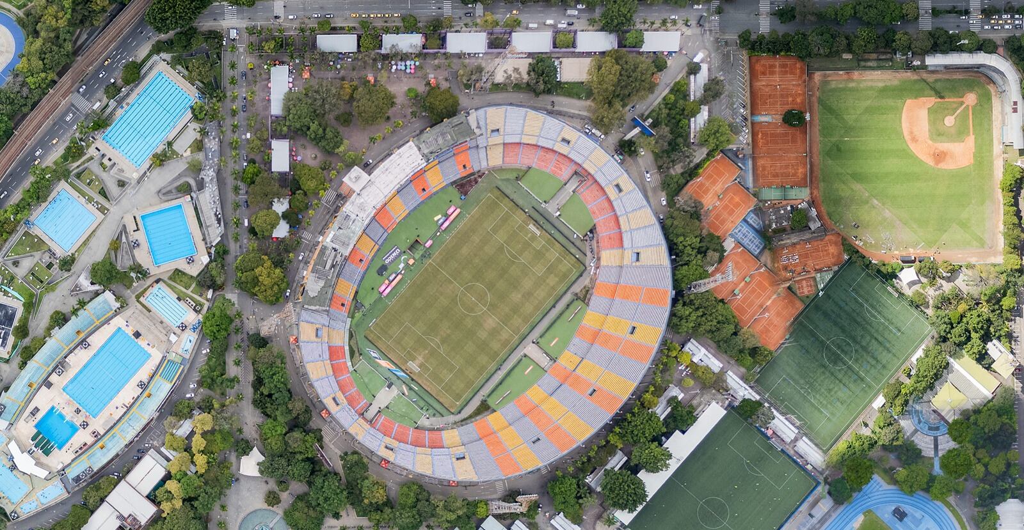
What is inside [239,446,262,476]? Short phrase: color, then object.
white tent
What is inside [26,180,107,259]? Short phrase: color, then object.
blue swimming pool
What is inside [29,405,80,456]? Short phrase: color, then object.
blue swimming pool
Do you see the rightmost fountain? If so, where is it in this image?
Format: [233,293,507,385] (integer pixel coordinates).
[238,508,289,530]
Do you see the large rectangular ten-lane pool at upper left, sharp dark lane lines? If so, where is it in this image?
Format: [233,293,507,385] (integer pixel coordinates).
[94,60,200,174]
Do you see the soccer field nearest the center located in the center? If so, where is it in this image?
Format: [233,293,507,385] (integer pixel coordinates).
[365,188,584,411]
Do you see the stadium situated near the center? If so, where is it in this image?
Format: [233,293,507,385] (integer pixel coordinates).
[295,104,674,483]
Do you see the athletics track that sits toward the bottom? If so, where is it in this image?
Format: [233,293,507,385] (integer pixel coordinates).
[816,475,956,530]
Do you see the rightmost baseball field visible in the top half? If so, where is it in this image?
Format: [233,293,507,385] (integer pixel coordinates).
[810,70,1011,263]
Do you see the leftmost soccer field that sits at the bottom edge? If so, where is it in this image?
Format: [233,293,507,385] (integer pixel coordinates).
[619,404,821,530]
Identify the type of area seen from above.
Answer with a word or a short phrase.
sports ground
